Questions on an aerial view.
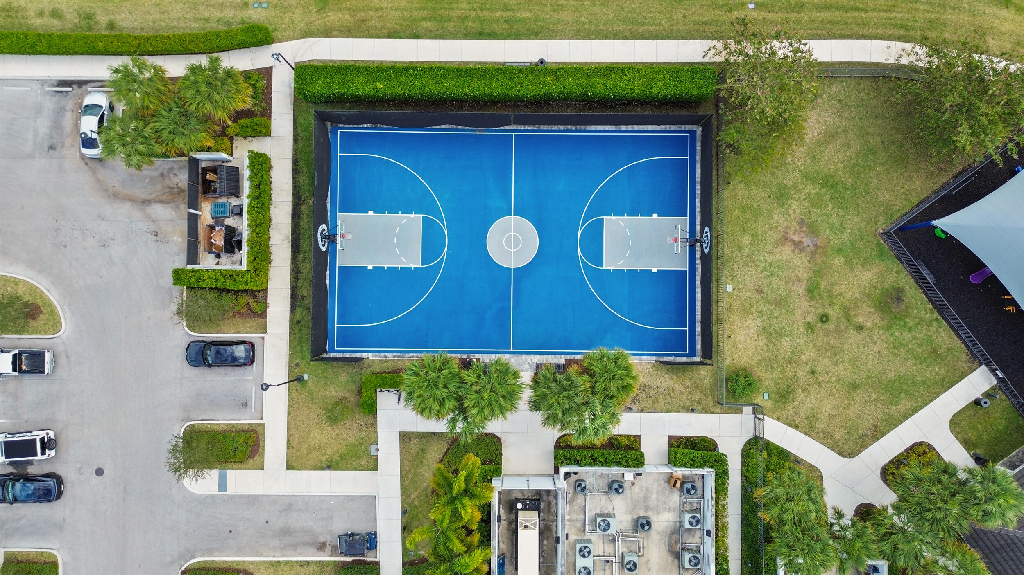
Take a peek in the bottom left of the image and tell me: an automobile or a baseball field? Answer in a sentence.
What appears in the bottom left of the image is an automobile.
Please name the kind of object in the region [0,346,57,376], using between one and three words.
truck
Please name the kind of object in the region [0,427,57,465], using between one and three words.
car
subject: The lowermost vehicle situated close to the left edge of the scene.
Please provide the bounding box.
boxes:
[0,471,64,507]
